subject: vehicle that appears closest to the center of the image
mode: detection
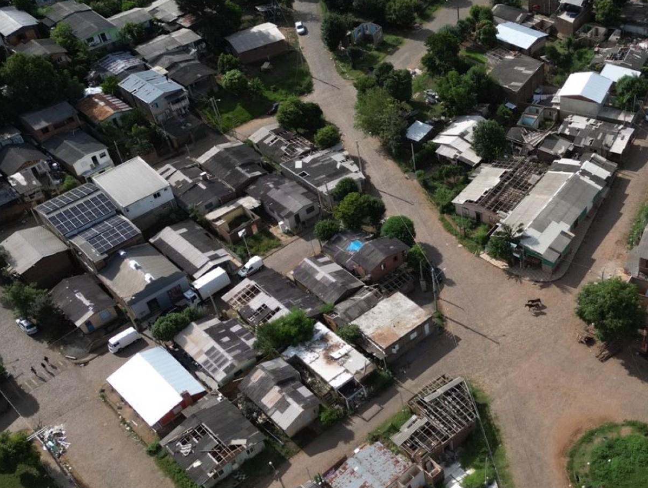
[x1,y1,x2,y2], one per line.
[237,252,264,276]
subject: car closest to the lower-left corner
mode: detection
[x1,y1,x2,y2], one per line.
[15,314,38,334]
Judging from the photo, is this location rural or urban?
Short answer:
urban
